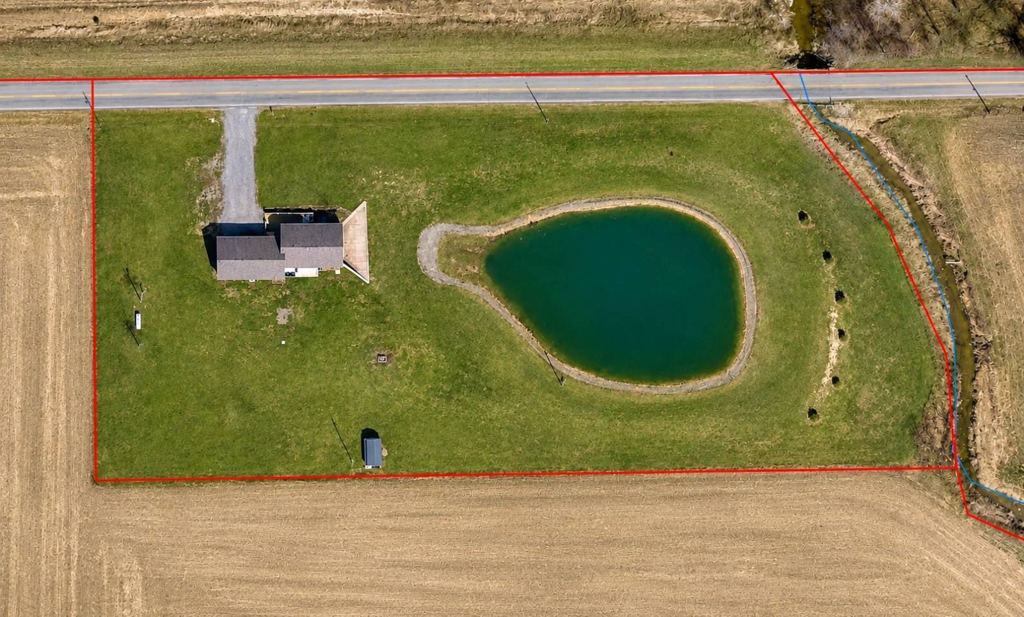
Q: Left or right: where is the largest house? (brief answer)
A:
left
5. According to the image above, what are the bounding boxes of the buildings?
[216,213,343,284]
[365,439,382,469]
